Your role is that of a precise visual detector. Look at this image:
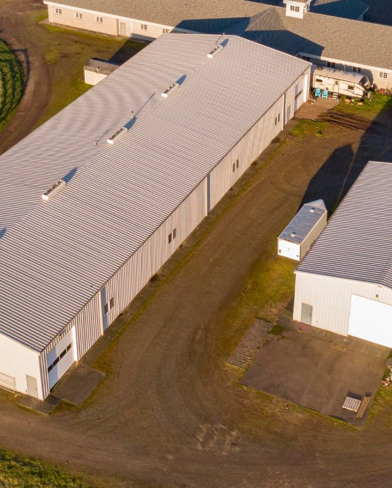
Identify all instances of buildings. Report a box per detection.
[0,32,314,401]
[291,161,392,348]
